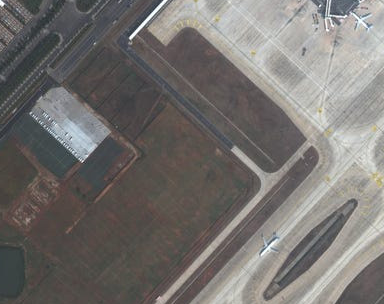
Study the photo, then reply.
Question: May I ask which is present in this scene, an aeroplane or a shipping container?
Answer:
aeroplane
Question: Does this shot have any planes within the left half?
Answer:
No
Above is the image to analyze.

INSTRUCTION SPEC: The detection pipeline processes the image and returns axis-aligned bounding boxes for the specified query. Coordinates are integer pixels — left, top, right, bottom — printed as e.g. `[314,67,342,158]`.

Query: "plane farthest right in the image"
[350,12,372,32]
